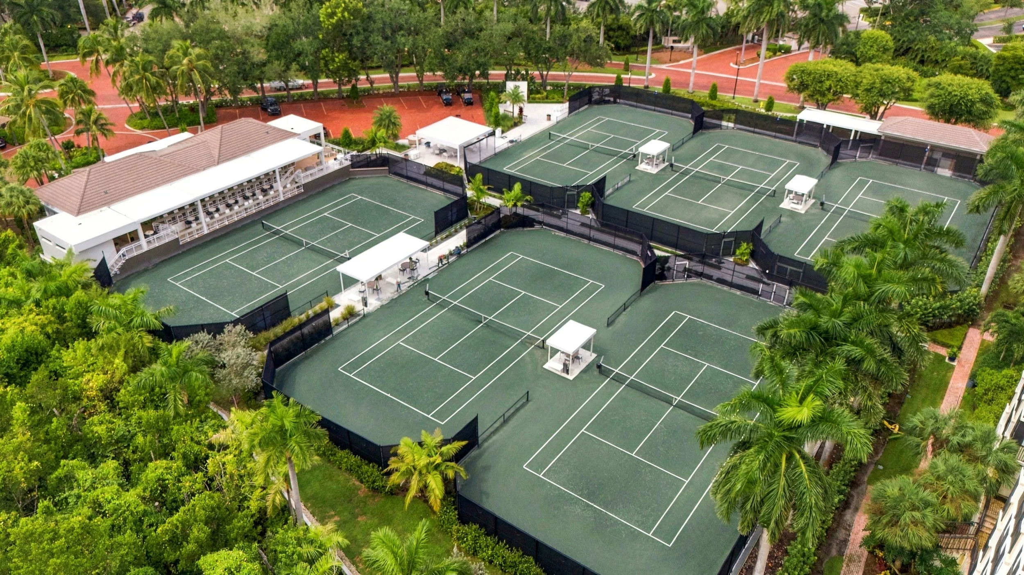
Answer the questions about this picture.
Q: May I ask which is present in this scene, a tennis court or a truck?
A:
tennis court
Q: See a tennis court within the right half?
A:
Yes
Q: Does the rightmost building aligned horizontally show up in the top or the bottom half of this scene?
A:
top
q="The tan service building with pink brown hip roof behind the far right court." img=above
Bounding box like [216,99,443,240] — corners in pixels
[876,115,995,158]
